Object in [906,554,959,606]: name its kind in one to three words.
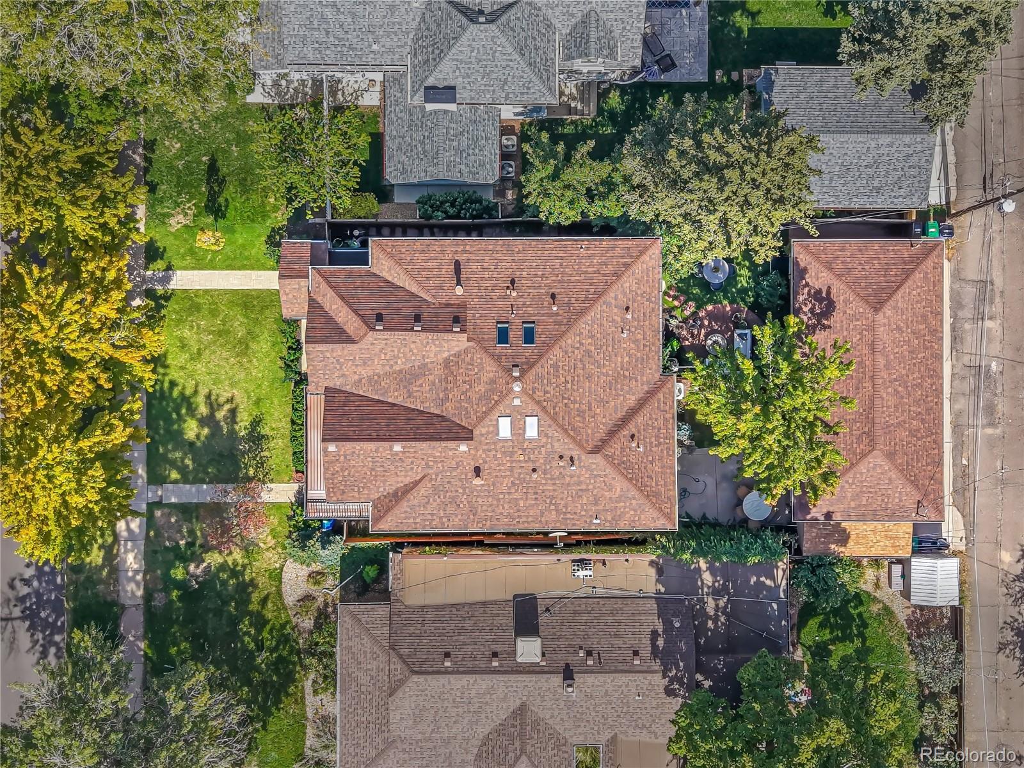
shed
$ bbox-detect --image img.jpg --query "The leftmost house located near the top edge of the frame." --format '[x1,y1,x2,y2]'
[249,0,644,185]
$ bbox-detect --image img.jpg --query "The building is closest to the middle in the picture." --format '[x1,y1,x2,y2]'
[279,236,679,533]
